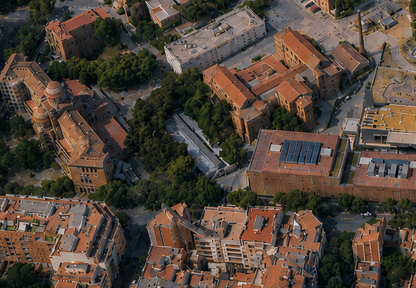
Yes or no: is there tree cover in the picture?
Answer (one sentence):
Yes, some tree cover is visible.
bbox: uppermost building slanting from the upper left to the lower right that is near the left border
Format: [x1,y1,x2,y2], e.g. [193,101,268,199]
[0,50,114,195]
